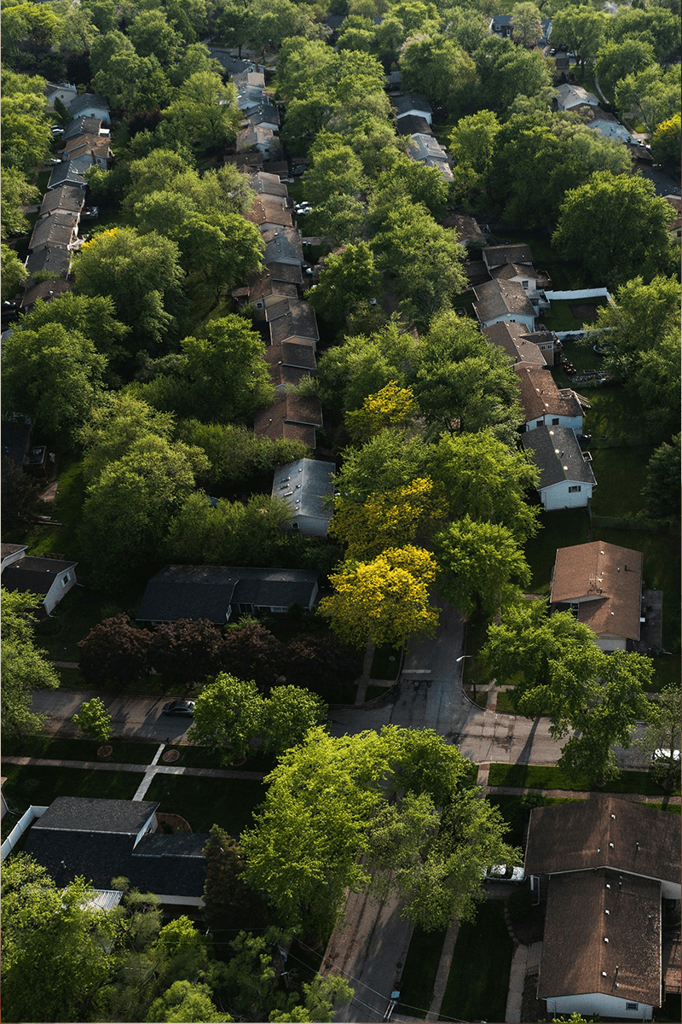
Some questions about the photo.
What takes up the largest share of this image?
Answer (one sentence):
The bulk of the photo consists of trees.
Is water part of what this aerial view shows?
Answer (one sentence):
No, the picture contains no water.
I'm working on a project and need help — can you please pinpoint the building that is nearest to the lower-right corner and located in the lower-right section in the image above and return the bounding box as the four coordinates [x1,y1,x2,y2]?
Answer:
[524,797,682,1022]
